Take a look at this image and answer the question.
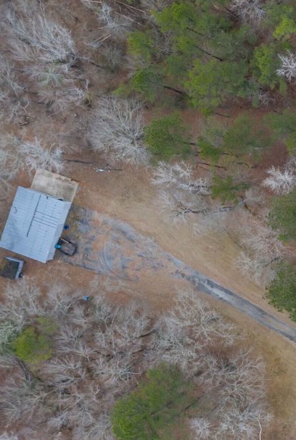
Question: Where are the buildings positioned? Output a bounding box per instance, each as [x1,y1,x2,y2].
[0,257,26,279]
[0,187,78,263]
